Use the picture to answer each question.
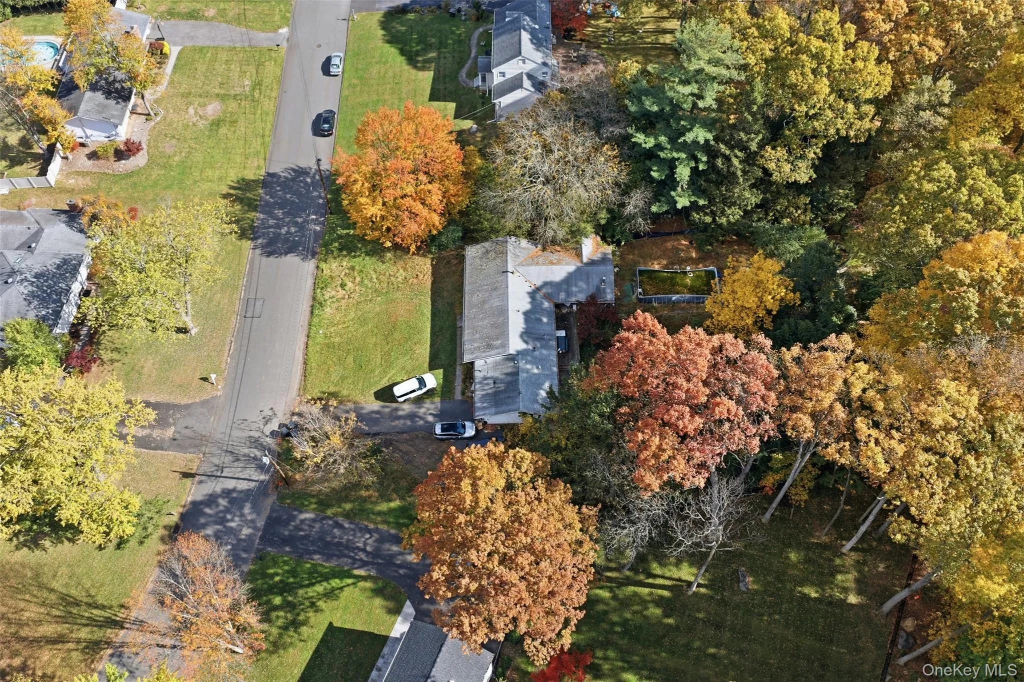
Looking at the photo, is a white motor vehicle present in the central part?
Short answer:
Yes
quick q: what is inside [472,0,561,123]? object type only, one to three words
house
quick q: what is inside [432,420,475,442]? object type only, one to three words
car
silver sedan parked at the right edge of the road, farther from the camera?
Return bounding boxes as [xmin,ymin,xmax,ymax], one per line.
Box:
[328,54,344,78]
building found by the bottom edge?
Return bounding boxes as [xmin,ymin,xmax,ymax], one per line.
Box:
[381,620,493,682]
